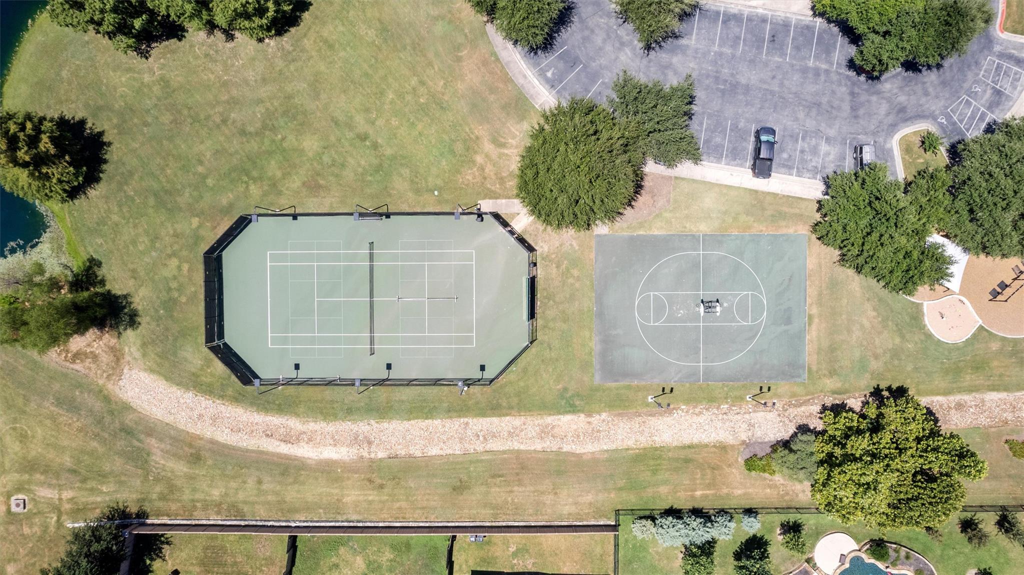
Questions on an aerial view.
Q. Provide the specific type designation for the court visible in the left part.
tennis court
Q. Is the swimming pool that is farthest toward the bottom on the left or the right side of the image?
right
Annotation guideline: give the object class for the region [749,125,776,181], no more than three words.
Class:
truck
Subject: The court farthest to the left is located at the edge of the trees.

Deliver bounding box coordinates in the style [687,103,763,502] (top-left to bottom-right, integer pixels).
[215,215,529,383]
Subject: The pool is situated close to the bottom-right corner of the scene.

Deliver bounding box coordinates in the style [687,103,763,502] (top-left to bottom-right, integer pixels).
[843,552,912,575]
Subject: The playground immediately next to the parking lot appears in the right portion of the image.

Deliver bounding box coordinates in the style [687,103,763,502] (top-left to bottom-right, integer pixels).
[889,209,1024,338]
